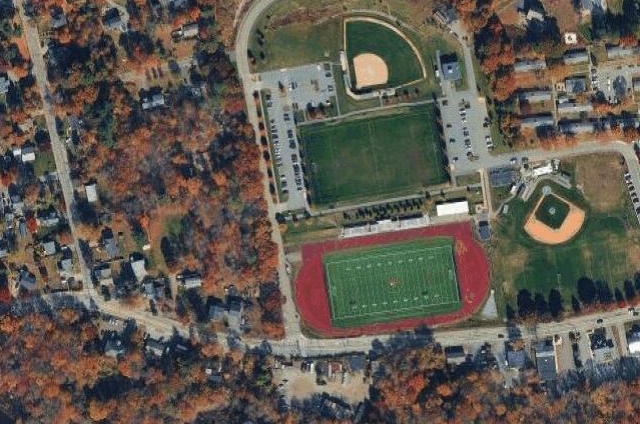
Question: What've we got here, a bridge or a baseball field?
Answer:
baseball field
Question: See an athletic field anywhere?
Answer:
Yes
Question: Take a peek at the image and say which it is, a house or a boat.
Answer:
house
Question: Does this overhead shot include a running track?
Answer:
Yes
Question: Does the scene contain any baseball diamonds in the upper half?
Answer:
Yes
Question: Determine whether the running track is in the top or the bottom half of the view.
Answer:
bottom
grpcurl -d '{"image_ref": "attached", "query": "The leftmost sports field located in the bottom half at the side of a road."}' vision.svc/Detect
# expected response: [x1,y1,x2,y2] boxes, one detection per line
[323,236,461,328]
